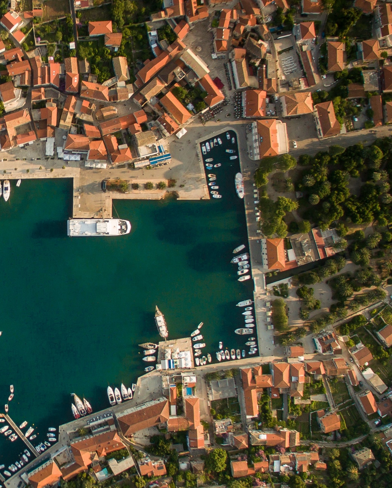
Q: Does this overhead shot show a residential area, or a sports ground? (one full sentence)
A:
The area seen from above is a residential area.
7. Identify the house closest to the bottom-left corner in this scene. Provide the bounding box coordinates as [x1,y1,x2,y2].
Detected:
[20,461,62,488]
